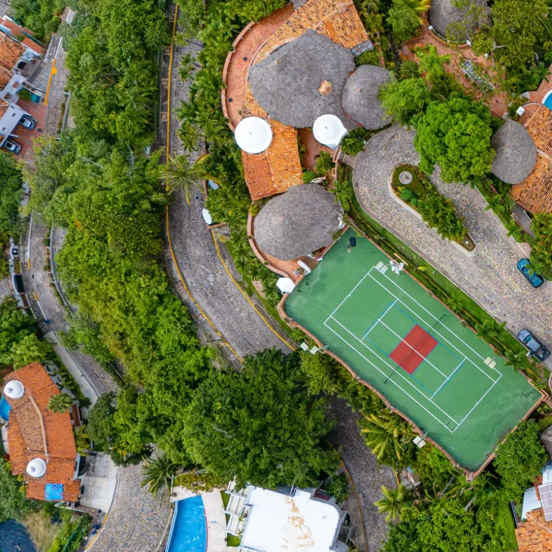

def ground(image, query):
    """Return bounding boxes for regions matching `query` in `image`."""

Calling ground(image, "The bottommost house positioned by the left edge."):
[1,362,86,502]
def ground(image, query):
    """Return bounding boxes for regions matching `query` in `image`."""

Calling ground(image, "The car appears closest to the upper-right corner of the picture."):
[516,257,544,290]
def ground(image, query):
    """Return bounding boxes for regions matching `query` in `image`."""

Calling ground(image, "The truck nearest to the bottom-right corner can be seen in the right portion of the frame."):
[516,326,552,366]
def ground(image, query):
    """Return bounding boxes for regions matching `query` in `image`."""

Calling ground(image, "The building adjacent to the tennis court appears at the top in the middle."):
[220,0,395,278]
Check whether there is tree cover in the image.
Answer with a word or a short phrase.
Yes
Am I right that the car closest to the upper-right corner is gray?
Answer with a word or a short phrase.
No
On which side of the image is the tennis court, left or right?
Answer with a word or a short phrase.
right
